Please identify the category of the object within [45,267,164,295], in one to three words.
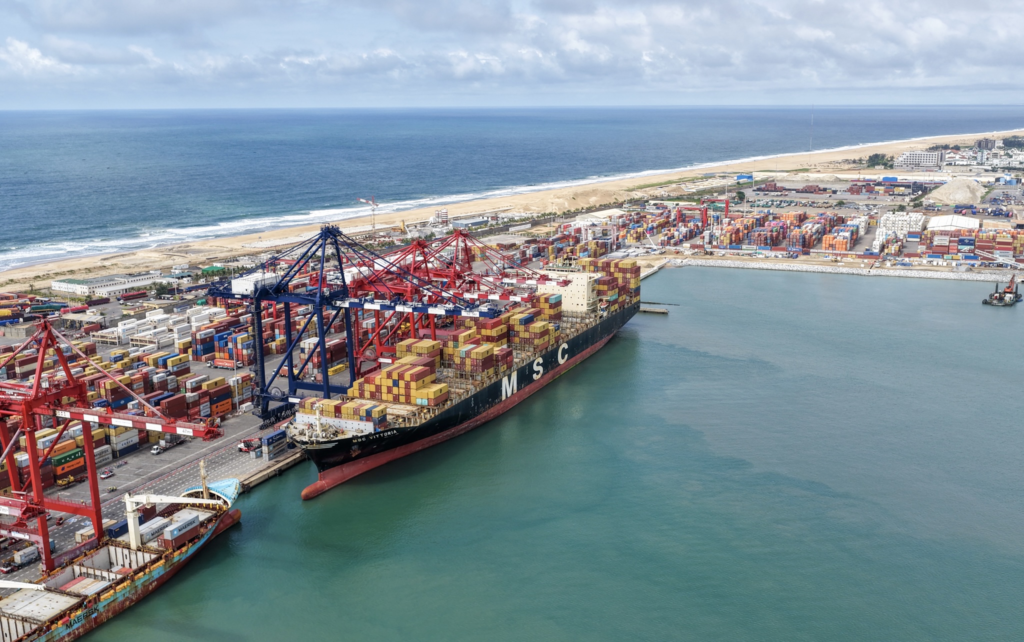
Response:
building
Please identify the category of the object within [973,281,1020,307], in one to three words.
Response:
ship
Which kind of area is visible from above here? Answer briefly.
port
